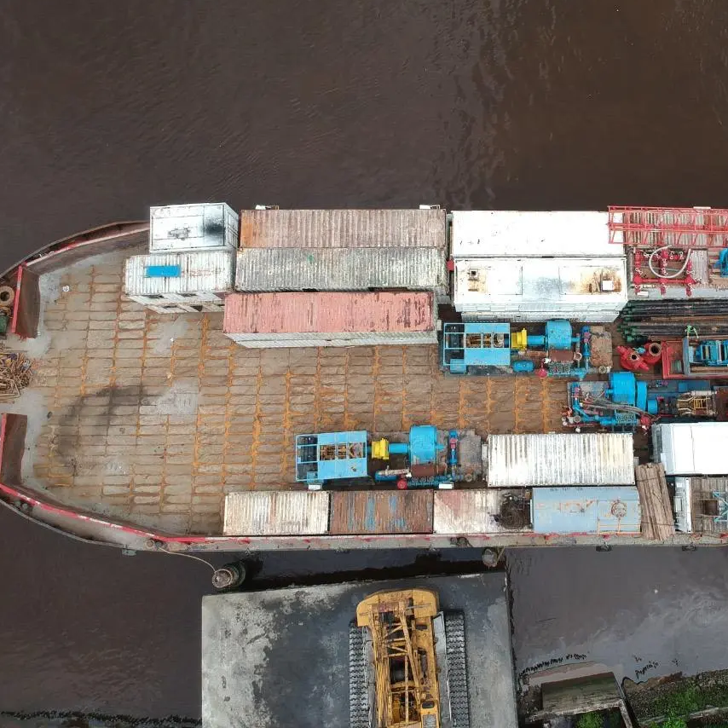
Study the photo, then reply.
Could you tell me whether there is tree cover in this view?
No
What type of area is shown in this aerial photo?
port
